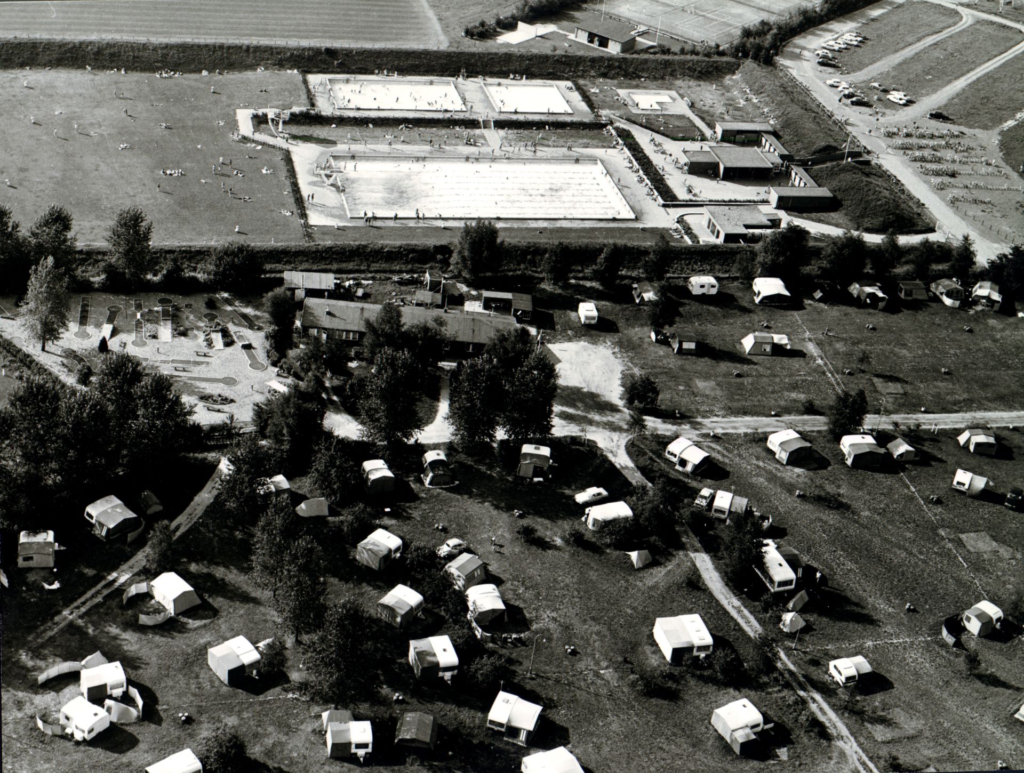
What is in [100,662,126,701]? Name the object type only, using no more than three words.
camper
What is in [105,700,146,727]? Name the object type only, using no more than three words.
tent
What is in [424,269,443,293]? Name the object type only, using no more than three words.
shed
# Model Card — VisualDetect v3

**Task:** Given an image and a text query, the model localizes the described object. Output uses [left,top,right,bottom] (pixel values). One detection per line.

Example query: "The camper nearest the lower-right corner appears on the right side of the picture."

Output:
[976,604,1003,637]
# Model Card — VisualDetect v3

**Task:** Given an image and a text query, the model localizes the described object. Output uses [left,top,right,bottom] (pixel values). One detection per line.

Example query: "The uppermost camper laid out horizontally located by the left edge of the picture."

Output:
[19,531,64,555]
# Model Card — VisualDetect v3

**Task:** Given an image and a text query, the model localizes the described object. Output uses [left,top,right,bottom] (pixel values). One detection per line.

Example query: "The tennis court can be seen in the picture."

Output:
[592,0,815,44]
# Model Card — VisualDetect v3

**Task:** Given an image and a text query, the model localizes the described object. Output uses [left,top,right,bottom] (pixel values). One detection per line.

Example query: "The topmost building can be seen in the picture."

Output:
[575,21,639,54]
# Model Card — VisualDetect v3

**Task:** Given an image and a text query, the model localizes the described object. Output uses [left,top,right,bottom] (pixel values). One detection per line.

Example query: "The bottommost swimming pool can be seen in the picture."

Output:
[331,151,635,221]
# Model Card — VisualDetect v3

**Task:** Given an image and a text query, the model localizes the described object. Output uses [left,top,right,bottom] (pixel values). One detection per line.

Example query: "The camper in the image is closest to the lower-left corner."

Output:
[71,706,109,745]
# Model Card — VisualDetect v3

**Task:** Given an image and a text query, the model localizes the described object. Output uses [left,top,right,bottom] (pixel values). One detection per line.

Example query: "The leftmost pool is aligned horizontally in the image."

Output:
[326,75,467,112]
